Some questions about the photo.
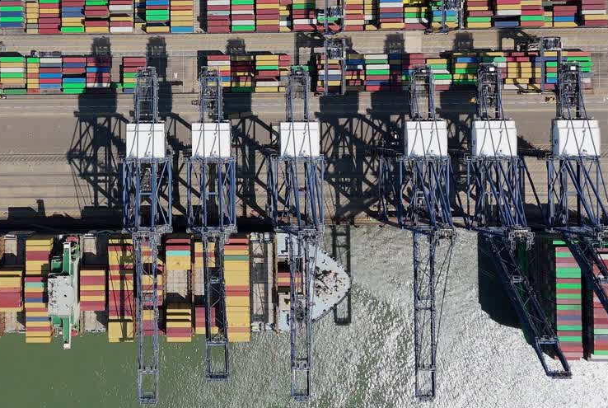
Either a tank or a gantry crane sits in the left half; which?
gantry crane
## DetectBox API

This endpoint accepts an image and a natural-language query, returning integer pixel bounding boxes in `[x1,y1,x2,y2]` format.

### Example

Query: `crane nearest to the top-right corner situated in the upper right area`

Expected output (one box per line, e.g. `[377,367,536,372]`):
[515,35,563,95]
